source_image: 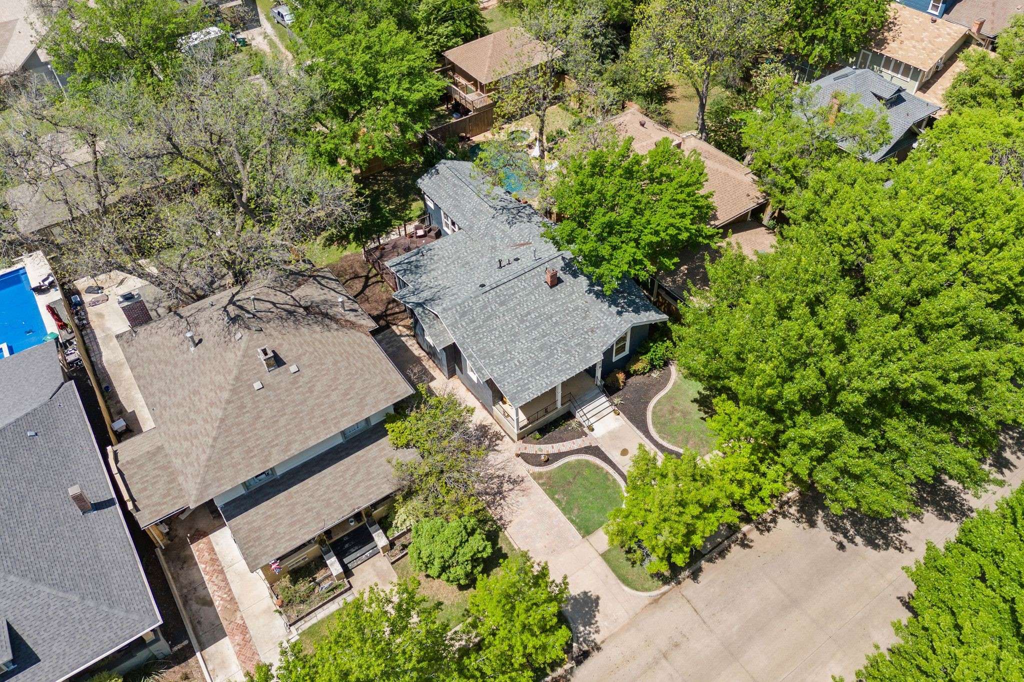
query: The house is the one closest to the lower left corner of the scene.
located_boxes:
[0,346,166,682]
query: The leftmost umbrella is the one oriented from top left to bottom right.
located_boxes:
[37,305,70,335]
